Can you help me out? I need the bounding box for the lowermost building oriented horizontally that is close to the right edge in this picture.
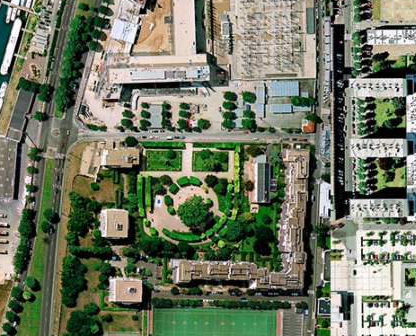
[350,199,407,218]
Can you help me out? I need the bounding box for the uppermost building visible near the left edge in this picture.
[9,89,35,130]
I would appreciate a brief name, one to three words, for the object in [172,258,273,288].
house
